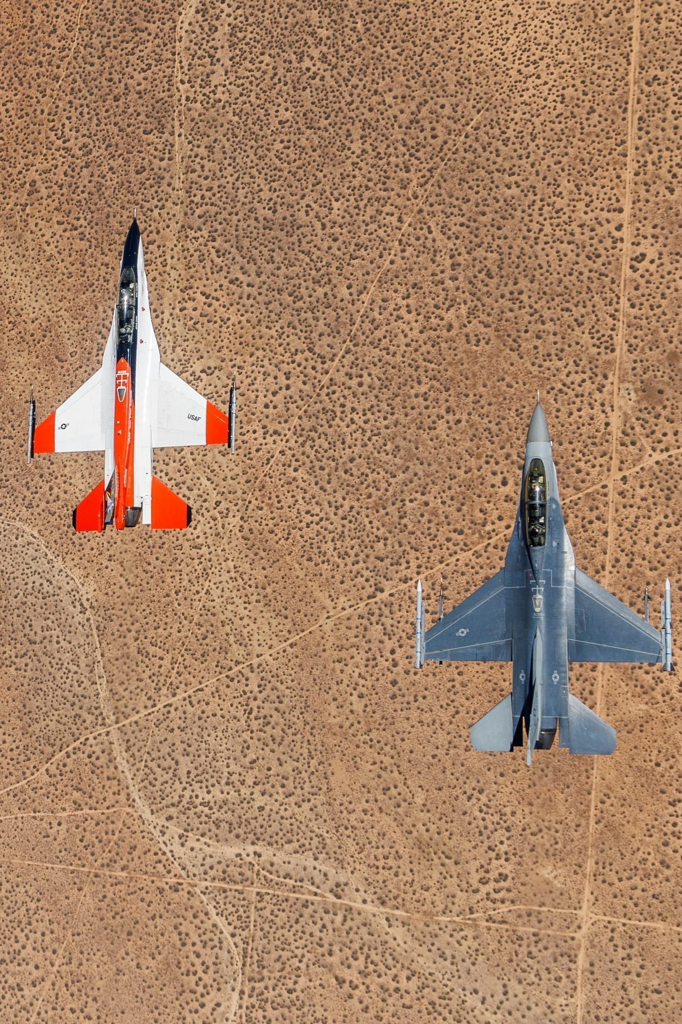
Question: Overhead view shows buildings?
No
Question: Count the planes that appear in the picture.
2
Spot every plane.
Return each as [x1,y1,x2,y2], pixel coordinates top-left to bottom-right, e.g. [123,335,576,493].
[422,392,664,764]
[32,217,231,533]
